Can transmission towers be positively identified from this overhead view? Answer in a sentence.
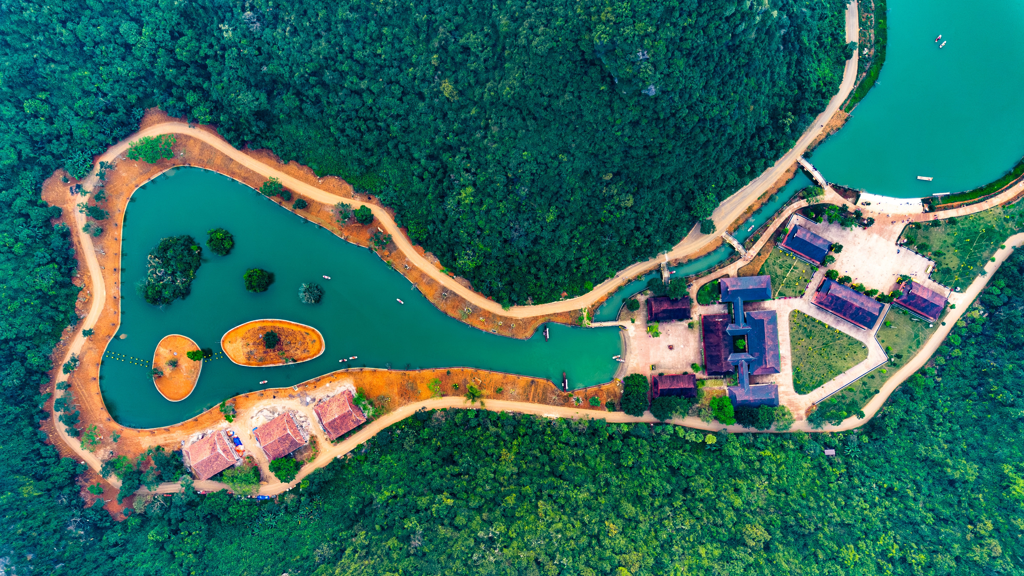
No, no transmission tower is visible in the scene.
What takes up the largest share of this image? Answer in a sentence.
For the most part, this view shows trees.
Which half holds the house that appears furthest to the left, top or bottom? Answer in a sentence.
It is in the bottom half that the house that appears furthest to the left appears.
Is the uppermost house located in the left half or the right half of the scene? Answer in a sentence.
It is on the right.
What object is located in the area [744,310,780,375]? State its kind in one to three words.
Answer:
building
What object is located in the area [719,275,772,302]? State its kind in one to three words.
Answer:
house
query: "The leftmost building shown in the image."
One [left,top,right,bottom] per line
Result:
[184,428,242,480]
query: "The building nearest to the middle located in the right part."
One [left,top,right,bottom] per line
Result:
[647,296,691,321]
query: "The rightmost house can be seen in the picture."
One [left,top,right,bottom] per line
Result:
[893,283,948,320]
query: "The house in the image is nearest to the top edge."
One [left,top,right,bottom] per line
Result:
[781,224,833,264]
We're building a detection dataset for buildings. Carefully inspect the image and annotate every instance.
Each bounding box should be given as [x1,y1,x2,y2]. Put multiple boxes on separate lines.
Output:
[647,296,691,321]
[893,283,948,320]
[719,275,772,302]
[781,224,833,264]
[744,310,780,375]
[313,389,366,441]
[728,385,780,410]
[253,410,311,463]
[653,375,696,398]
[702,313,735,377]
[184,428,242,480]
[811,276,884,330]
